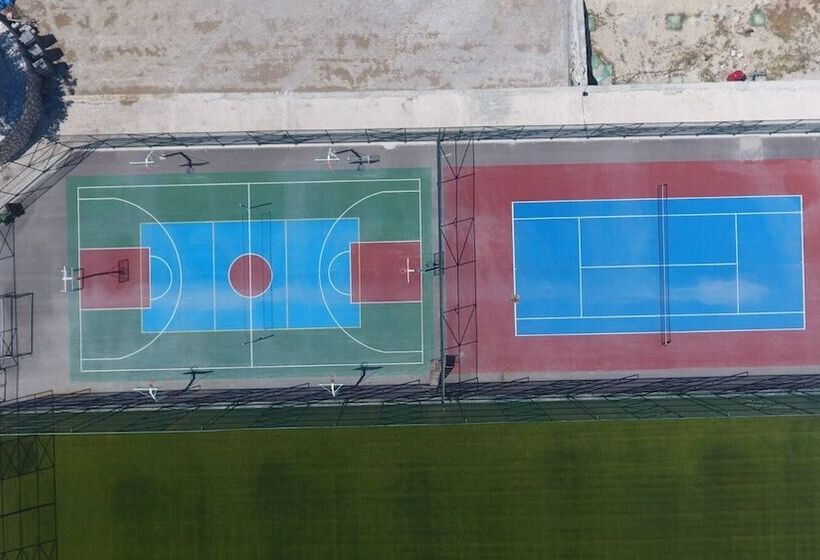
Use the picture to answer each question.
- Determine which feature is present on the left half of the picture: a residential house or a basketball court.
basketball court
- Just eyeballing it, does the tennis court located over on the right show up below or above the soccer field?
above it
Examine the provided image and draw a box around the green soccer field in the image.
[0,397,820,560]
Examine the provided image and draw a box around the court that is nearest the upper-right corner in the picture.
[445,158,820,376]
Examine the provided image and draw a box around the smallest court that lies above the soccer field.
[139,217,361,333]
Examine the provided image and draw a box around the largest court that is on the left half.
[66,168,436,382]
